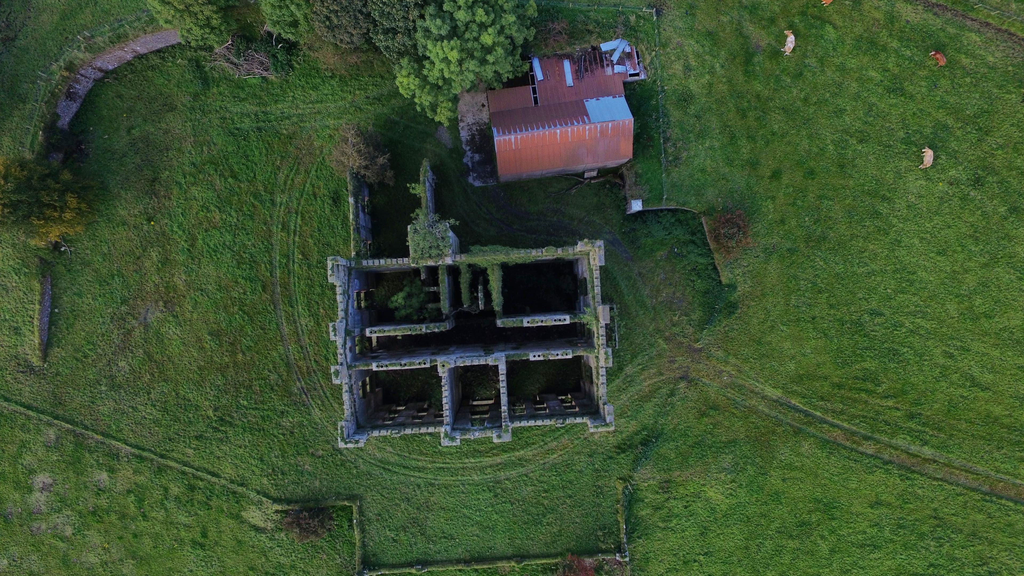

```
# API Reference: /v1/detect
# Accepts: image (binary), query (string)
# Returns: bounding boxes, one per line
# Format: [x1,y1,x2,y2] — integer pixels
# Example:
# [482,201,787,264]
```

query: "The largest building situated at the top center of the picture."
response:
[489,47,634,181]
